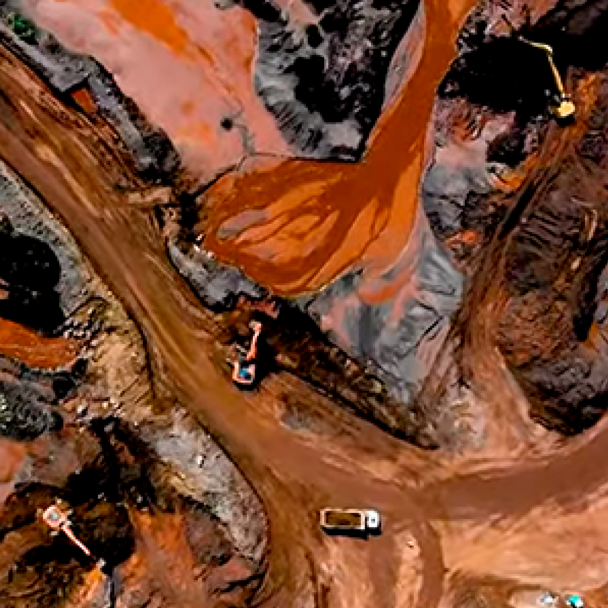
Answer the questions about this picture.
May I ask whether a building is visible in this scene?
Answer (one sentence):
No, the frame has no building in it.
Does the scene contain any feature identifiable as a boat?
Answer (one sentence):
No, the photo shows no boat.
